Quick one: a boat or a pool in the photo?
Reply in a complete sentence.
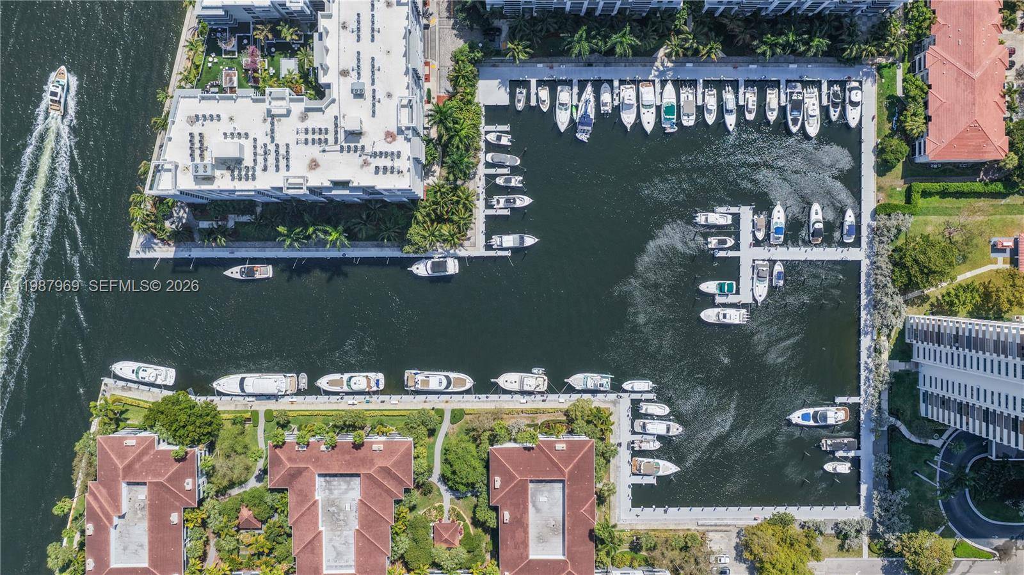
The one in the frame is a boat.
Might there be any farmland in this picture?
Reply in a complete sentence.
No, no farmland is visible.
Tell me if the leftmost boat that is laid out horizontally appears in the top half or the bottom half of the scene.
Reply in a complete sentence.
The leftmost boat that is laid out horizontally sits in the bottom half of the picture.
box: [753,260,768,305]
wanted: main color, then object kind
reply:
white boat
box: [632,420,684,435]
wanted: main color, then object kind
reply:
white boat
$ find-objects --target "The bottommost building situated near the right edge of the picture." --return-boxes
[906,315,1024,450]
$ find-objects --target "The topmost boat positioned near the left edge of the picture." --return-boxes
[50,66,68,119]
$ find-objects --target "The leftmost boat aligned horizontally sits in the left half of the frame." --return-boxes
[110,363,177,385]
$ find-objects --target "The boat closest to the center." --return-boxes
[491,234,540,249]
